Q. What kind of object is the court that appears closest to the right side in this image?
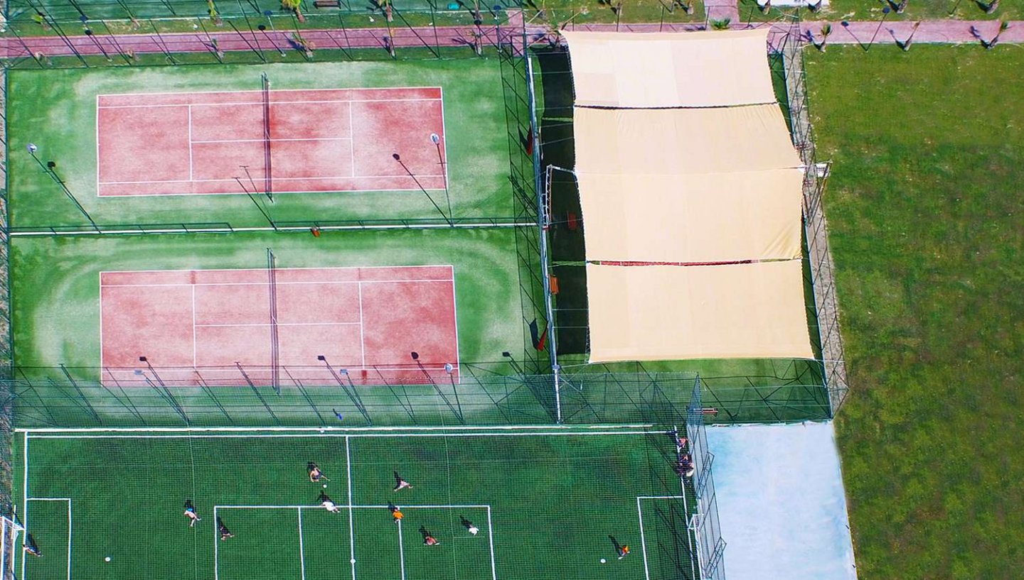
tennis court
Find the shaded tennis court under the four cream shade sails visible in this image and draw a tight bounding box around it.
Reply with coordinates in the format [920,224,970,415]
[534,50,830,424]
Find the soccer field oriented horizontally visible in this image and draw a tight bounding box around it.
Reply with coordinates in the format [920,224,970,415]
[10,425,702,580]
